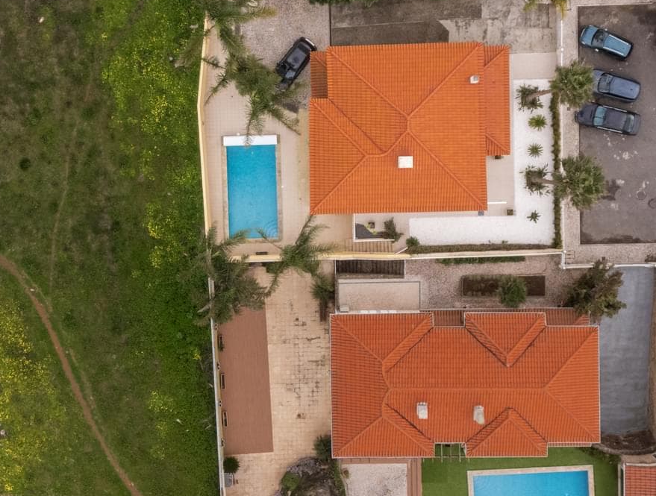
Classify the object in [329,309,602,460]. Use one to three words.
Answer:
house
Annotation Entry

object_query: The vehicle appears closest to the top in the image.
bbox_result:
[578,26,635,60]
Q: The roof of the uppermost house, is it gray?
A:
No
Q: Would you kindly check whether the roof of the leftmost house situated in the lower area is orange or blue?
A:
orange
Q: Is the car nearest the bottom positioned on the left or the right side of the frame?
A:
right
